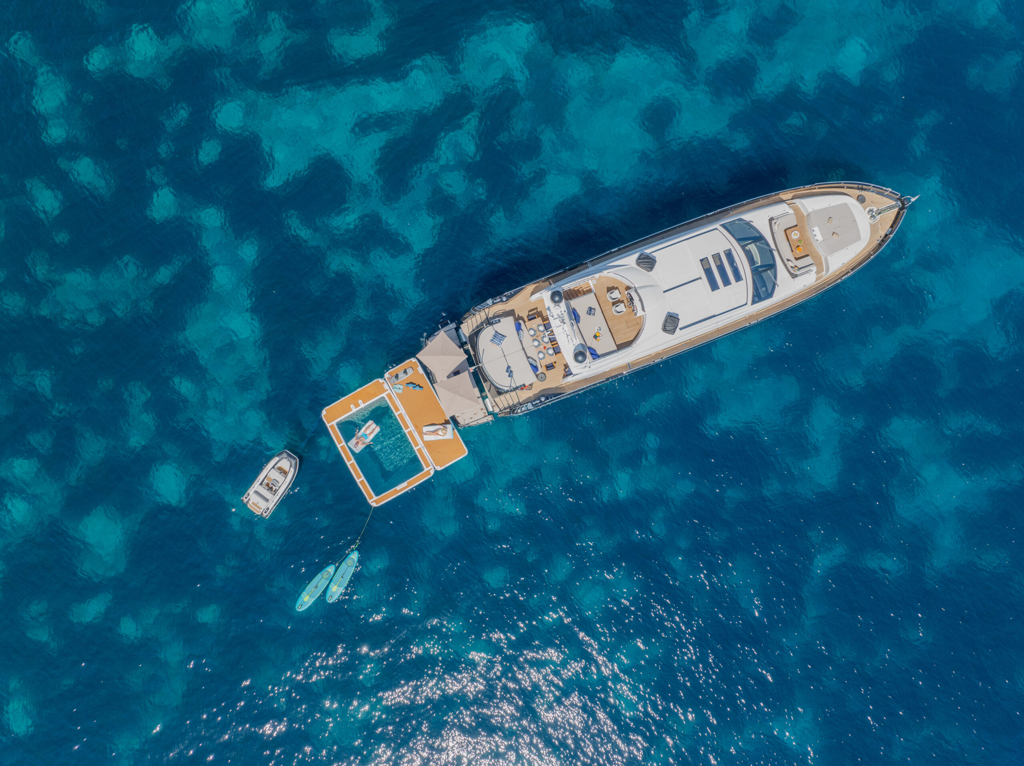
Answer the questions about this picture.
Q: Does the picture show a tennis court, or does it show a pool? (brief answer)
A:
pool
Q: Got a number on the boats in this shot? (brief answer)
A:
two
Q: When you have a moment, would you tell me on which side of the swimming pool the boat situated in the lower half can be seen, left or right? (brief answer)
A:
to its left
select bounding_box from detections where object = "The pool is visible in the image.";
[321,378,435,506]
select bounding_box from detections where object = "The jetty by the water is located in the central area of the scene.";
[385,358,468,471]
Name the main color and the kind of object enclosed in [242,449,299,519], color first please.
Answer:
white boat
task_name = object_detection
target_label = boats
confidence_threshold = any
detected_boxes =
[425,181,919,428]
[242,449,299,519]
